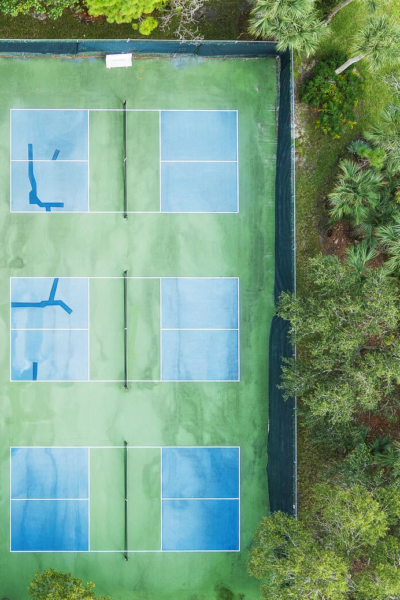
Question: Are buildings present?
No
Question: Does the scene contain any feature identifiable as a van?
No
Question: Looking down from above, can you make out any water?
No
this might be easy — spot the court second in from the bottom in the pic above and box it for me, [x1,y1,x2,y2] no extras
[10,277,239,382]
